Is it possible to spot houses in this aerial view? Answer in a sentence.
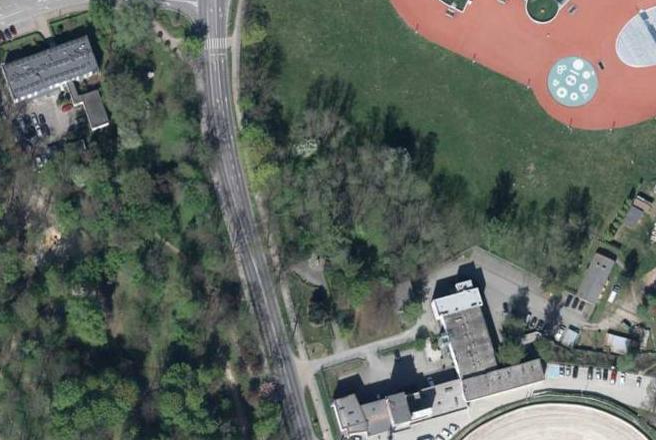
Yes, the frame does contain a house.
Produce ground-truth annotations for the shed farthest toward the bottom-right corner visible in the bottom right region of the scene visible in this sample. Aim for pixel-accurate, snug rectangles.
[606,334,628,355]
